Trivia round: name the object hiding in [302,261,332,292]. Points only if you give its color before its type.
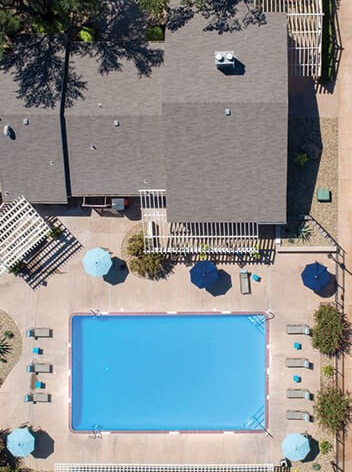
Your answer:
blue umbrella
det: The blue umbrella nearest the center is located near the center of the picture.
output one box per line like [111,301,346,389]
[190,259,218,289]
